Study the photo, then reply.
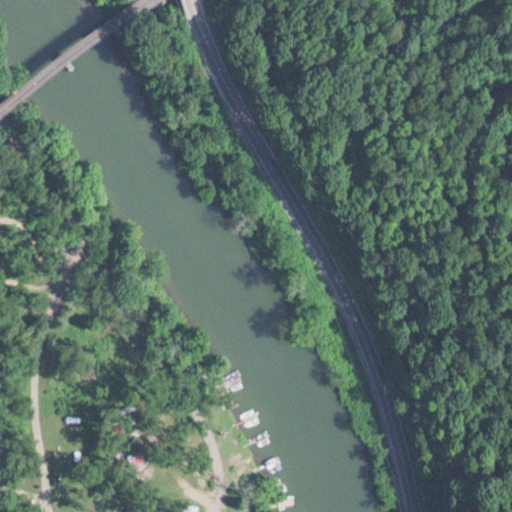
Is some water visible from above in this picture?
Yes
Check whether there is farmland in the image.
No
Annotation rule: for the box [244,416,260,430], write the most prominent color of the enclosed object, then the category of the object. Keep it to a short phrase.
white boat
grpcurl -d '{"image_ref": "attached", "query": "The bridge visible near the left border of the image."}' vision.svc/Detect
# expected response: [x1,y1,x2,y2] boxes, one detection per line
[0,0,143,120]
